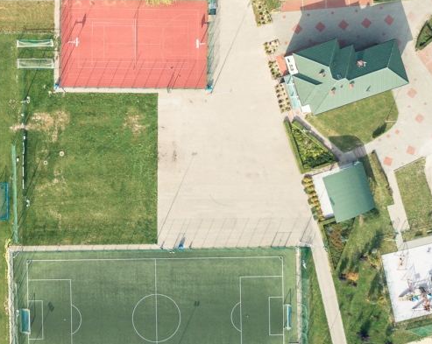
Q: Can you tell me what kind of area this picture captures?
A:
sports ground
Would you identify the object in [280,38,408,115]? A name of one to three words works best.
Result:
building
